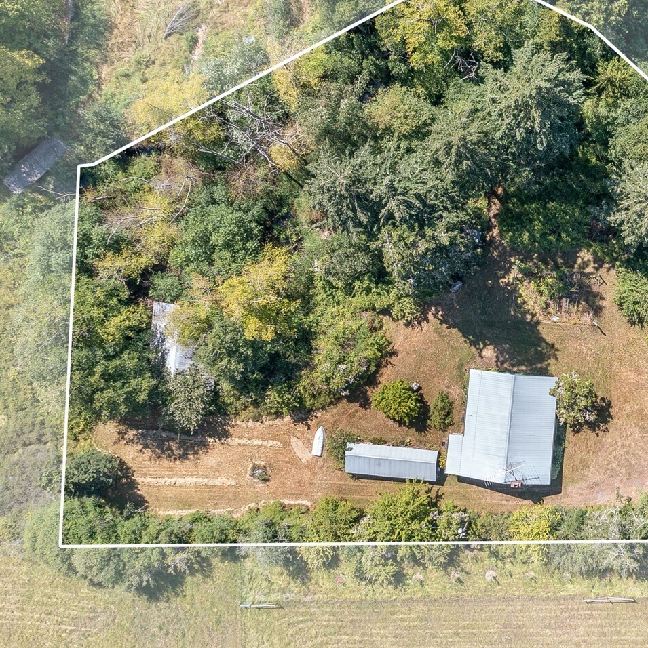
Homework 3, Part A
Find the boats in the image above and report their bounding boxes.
[312,426,324,457]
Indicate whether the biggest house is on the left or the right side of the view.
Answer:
right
